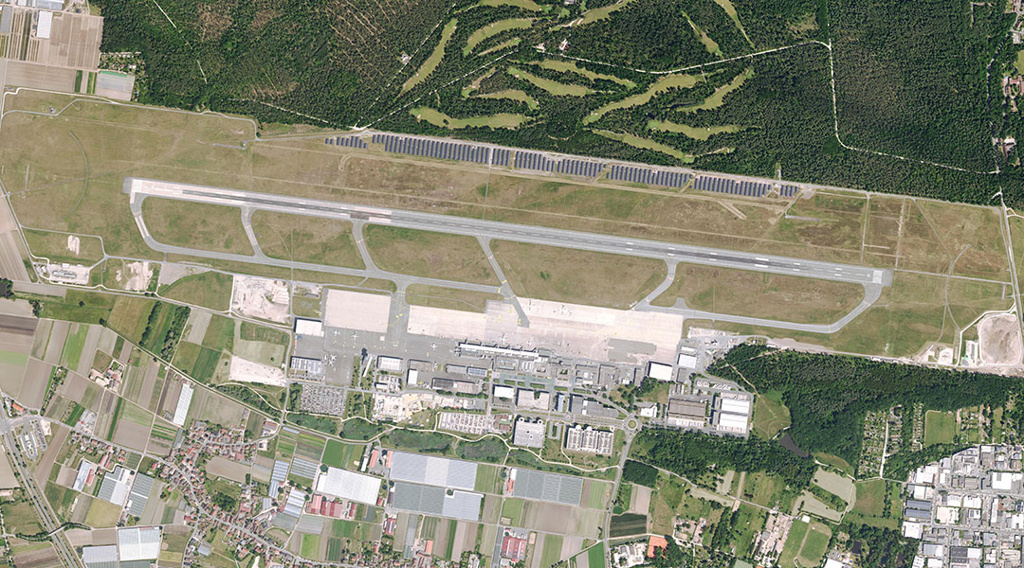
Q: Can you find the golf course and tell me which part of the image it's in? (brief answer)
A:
top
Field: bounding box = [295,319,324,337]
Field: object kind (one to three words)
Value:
hangar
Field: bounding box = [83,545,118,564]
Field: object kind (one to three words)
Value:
greenhouse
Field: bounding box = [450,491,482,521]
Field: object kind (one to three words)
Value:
greenhouse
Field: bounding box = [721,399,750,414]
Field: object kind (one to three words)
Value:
building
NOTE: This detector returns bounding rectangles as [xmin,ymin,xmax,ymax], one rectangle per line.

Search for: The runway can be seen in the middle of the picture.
[132,177,882,285]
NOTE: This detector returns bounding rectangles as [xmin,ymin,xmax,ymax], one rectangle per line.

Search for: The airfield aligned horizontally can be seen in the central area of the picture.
[122,176,893,387]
